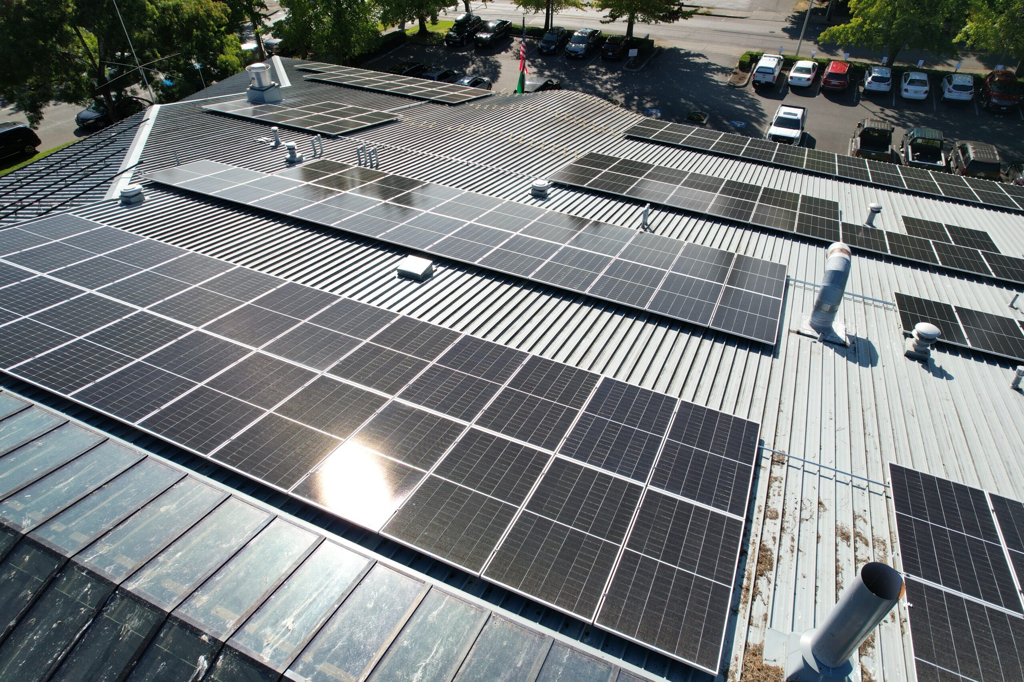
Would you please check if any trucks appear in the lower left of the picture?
No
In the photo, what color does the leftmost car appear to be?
black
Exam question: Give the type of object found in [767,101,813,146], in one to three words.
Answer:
truck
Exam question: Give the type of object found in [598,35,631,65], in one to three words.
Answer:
car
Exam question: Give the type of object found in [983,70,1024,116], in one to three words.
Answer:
car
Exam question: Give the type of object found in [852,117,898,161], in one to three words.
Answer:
truck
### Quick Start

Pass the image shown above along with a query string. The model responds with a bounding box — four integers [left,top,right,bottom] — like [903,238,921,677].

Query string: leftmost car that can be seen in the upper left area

[0,126,38,157]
